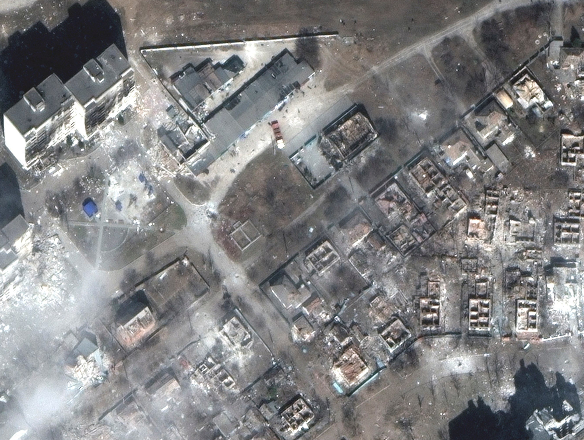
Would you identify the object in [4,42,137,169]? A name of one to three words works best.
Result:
building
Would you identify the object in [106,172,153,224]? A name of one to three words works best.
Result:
playground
